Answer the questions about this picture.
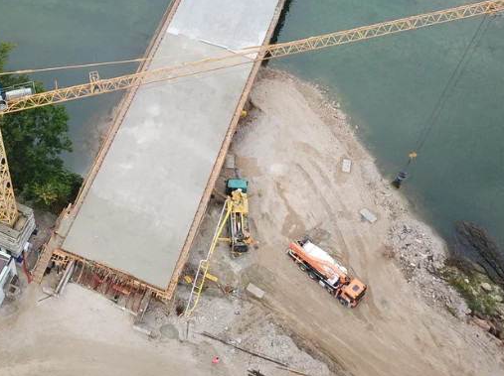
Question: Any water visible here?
Yes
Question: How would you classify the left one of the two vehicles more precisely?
truck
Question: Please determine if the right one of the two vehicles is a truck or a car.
truck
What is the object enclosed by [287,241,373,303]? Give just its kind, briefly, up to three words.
truck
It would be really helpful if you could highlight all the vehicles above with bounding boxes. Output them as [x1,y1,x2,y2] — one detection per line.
[287,241,373,303]
[178,166,268,343]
